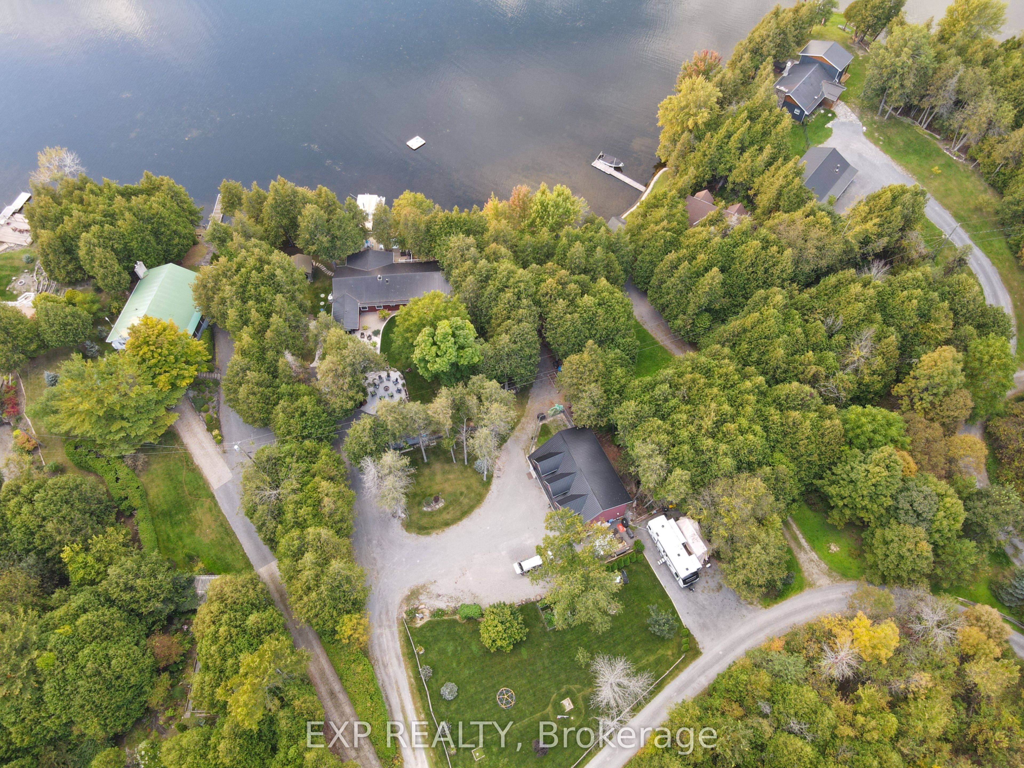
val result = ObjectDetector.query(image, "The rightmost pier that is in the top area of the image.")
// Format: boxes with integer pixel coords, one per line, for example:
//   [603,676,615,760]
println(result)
[590,157,648,194]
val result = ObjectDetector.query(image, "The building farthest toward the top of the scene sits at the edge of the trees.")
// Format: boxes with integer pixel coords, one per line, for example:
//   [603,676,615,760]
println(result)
[770,39,855,120]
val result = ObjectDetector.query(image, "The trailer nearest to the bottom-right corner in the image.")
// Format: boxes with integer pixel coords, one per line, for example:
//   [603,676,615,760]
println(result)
[645,514,701,587]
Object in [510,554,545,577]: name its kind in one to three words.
car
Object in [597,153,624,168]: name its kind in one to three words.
boat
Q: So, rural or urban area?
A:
rural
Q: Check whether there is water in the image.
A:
Yes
